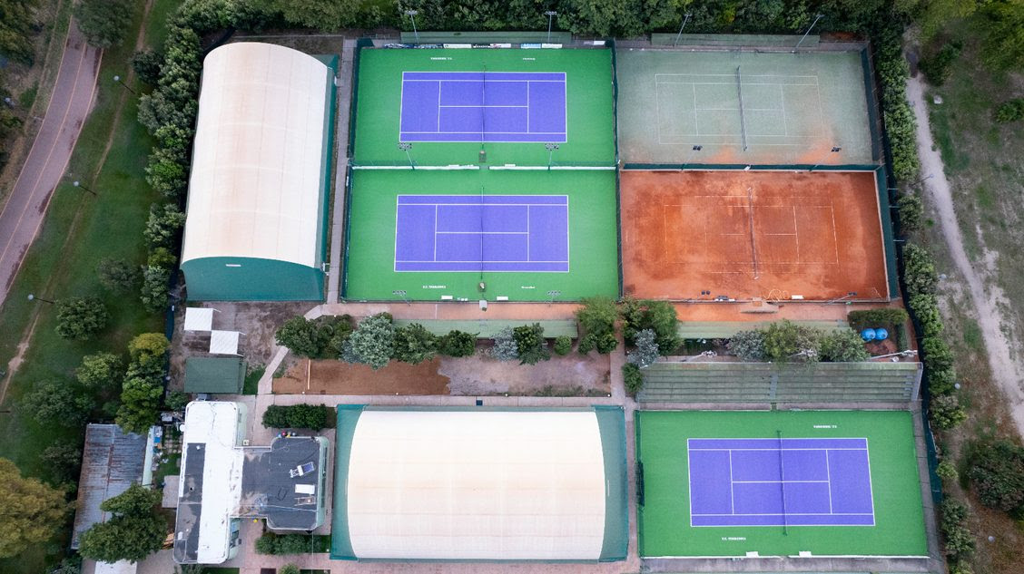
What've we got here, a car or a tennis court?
tennis court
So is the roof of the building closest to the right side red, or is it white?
white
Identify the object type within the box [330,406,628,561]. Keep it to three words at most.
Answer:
building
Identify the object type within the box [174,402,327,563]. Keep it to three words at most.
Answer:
building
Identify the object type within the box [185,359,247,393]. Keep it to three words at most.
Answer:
shed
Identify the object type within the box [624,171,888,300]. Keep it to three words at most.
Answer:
tennis court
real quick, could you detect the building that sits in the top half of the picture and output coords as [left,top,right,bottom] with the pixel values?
[182,41,335,301]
